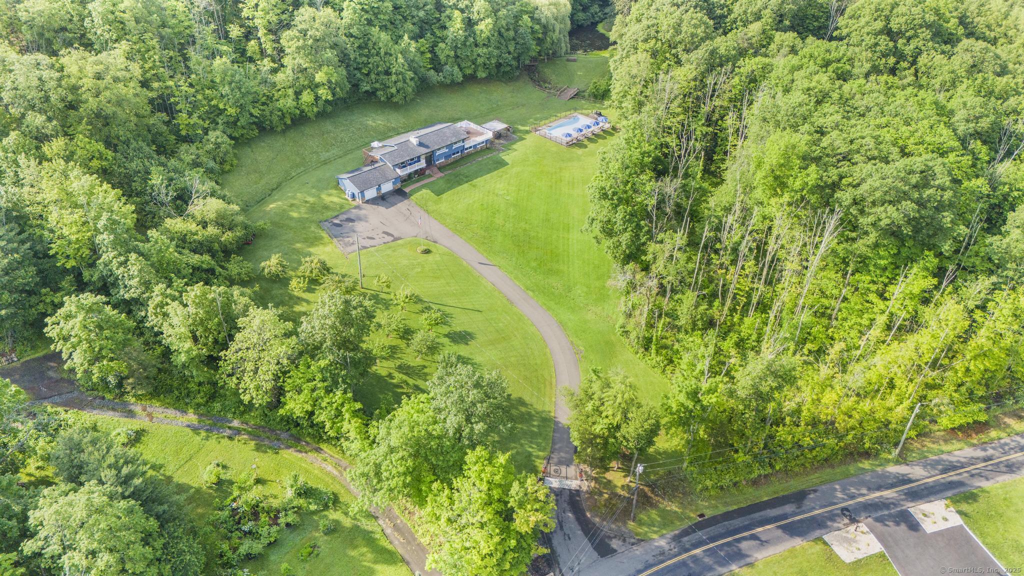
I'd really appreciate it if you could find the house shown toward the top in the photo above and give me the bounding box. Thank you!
[333,120,493,203]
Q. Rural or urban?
rural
